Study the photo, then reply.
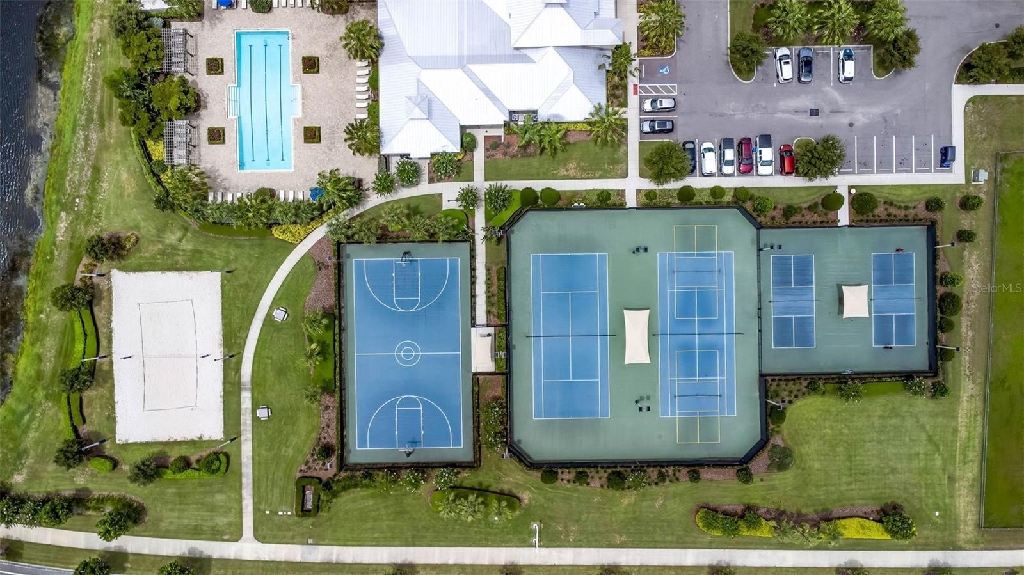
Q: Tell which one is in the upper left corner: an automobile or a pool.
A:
pool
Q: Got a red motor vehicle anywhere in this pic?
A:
Yes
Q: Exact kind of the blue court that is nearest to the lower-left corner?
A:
basketball court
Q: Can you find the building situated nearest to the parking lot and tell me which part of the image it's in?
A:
top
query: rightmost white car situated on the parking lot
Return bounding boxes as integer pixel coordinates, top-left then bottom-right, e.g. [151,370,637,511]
[837,49,855,83]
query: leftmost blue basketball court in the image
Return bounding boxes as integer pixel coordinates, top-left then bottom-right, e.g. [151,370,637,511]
[353,257,462,450]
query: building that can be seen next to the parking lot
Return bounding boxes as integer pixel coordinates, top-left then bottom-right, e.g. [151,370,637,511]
[378,0,622,156]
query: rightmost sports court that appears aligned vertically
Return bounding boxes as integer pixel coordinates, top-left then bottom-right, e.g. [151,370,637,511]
[872,253,916,346]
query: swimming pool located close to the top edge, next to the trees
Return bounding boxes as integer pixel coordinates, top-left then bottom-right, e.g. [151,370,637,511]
[221,28,306,173]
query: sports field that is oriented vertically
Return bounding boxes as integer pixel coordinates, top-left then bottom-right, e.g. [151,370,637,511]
[984,151,1024,529]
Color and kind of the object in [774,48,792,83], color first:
white car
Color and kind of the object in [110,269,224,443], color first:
white sports court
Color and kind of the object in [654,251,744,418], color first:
blue tennis court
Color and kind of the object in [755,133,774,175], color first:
white vehicle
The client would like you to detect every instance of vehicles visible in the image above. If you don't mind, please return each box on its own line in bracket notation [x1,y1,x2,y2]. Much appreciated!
[699,143,716,176]
[755,133,774,175]
[774,48,792,83]
[939,145,956,167]
[736,137,754,174]
[837,49,855,83]
[719,137,736,175]
[642,96,676,112]
[682,141,698,175]
[778,144,795,176]
[796,48,814,83]
[640,118,674,134]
